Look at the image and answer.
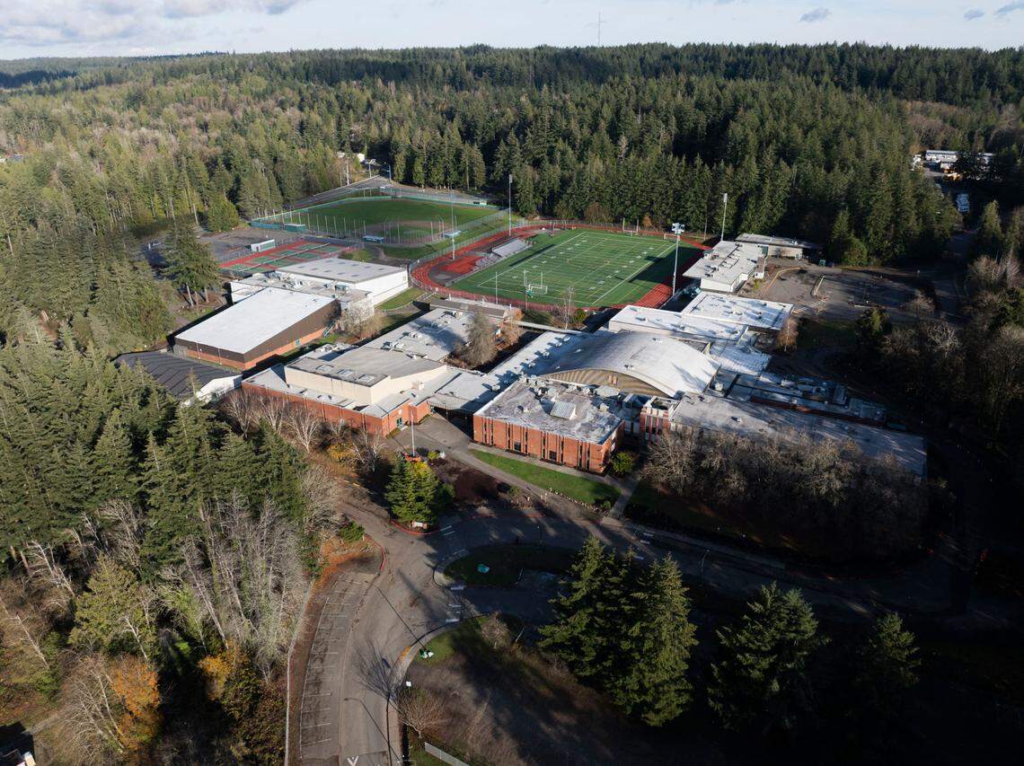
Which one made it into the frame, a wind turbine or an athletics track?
athletics track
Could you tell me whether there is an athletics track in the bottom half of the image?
No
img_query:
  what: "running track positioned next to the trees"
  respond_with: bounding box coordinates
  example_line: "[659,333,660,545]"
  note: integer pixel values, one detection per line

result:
[405,224,704,313]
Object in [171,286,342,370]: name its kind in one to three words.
building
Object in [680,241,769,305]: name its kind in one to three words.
building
